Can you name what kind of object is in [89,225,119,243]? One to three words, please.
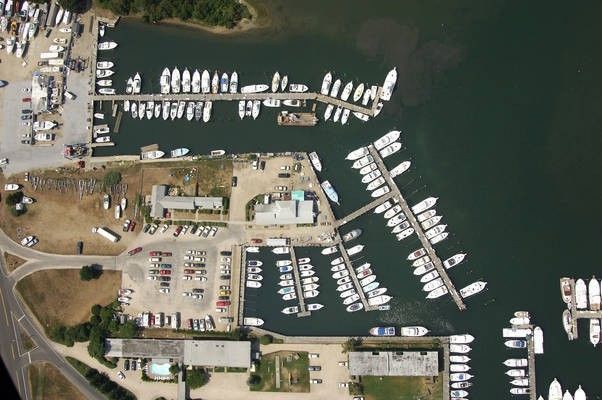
vehicle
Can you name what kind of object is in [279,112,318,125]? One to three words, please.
ship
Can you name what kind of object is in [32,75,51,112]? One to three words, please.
building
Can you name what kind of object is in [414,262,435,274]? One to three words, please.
boat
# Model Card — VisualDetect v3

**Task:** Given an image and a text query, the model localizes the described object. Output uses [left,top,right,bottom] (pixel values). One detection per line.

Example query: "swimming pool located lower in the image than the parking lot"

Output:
[145,361,175,381]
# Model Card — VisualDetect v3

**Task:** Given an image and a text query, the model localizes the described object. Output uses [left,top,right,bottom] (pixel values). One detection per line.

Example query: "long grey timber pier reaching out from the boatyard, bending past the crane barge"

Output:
[92,86,384,117]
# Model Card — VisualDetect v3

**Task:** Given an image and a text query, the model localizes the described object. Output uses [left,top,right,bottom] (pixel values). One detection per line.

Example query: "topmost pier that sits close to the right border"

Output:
[570,279,602,339]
